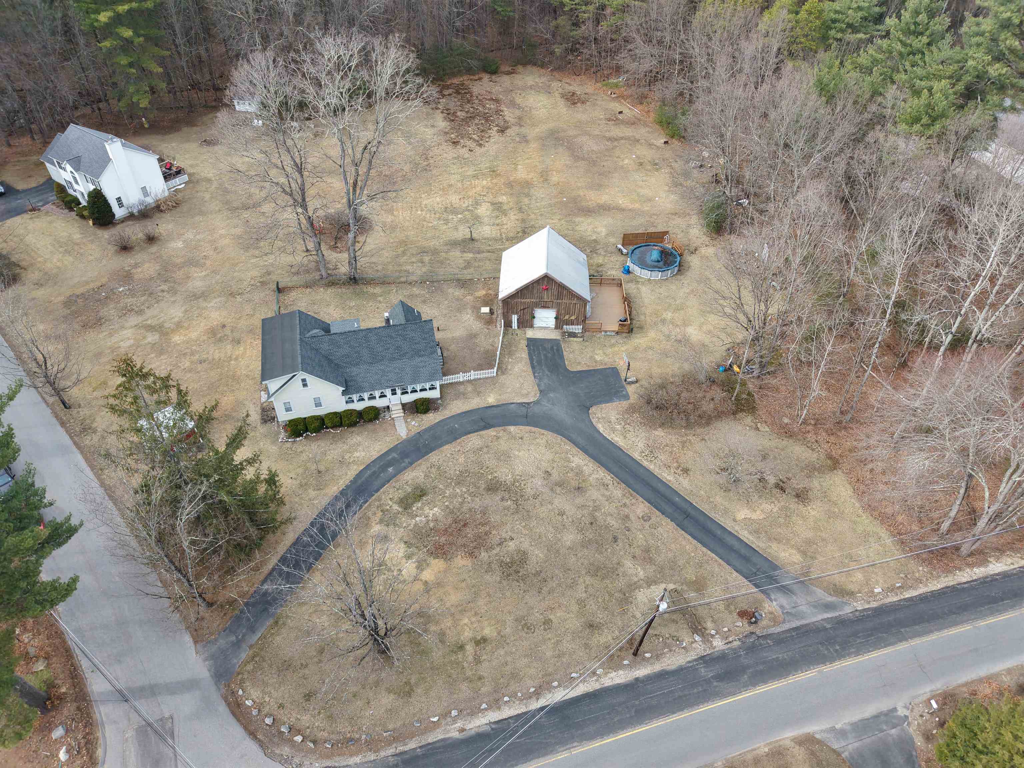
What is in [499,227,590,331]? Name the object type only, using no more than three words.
barn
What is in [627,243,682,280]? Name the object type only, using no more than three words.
swimming pool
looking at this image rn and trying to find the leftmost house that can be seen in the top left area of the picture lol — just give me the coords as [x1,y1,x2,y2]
[40,123,170,219]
